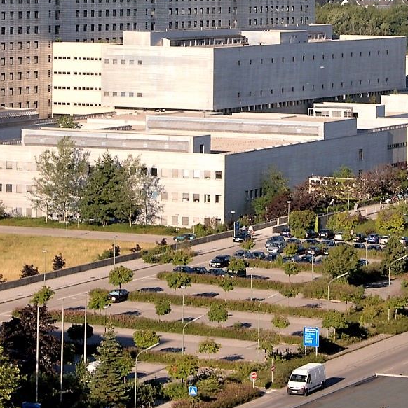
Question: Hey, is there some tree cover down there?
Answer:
Yes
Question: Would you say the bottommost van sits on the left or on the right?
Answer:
right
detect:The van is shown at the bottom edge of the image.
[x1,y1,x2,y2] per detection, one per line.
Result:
[288,362,327,394]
